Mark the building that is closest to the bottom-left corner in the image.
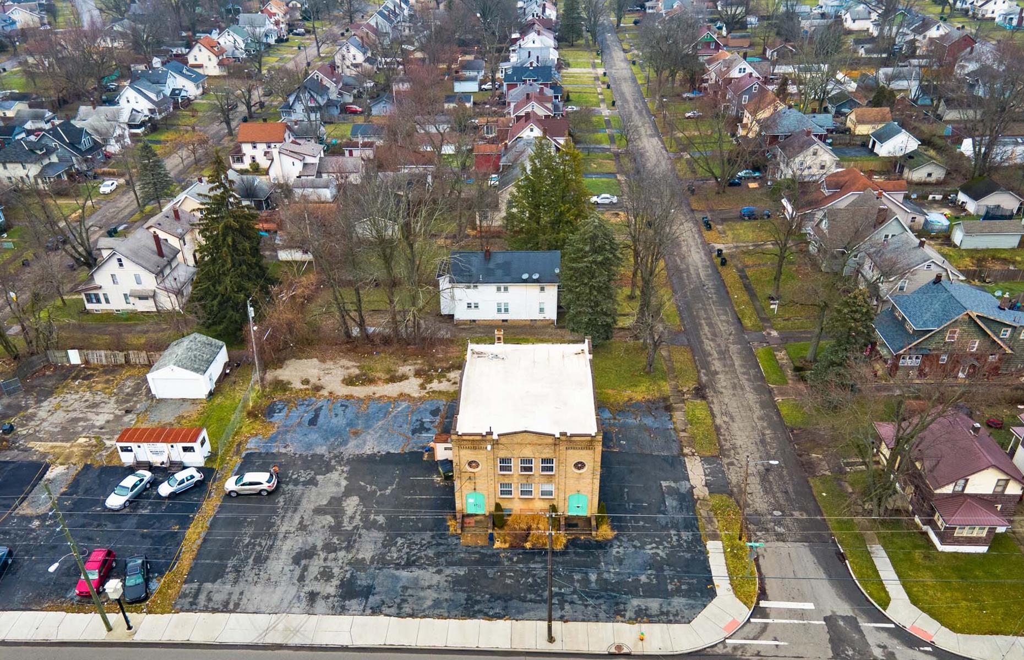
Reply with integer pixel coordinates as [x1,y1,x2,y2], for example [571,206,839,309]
[146,321,238,395]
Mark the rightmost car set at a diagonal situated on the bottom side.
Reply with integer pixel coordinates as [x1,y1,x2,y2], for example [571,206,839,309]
[155,464,206,501]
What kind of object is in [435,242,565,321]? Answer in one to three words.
house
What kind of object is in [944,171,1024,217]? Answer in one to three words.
building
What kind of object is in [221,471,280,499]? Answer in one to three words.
car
